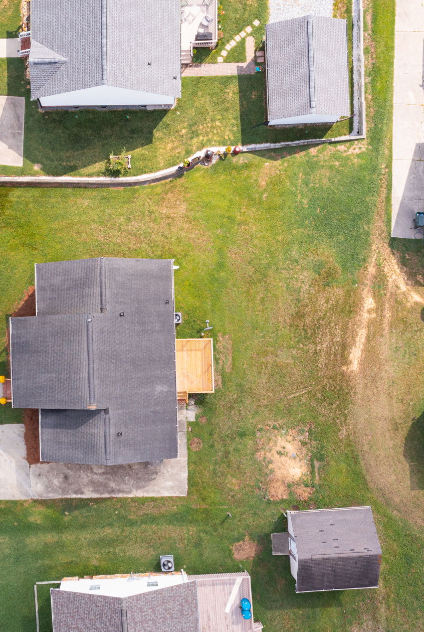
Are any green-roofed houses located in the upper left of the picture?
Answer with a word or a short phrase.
No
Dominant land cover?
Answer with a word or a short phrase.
grass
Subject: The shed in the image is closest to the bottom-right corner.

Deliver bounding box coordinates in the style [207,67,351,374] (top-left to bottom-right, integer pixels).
[286,505,382,594]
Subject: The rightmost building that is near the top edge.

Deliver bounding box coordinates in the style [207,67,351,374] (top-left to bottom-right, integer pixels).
[251,15,355,128]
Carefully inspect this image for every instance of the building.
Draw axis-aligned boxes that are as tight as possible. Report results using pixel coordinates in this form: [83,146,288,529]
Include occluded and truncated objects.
[286,505,382,594]
[251,15,355,128]
[16,0,182,112]
[49,573,200,632]
[5,258,180,464]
